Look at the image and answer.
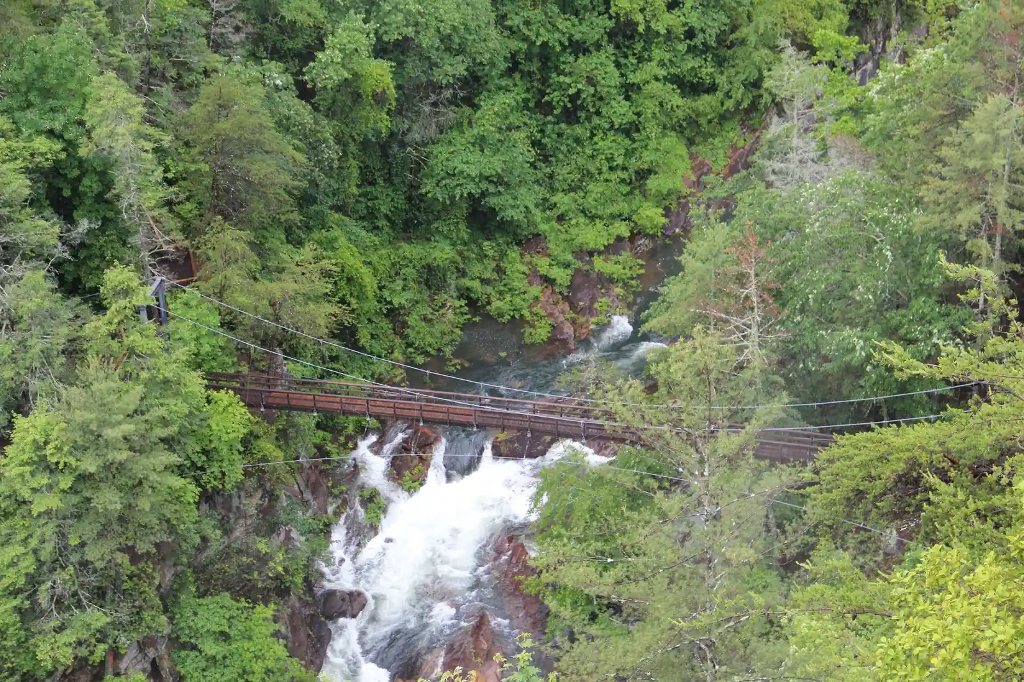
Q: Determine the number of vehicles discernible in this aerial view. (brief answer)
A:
zero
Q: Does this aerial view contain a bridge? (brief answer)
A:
Yes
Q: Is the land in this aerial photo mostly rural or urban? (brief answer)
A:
rural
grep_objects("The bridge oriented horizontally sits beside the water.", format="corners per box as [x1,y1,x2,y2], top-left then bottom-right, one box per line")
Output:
[78,276,1022,549]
